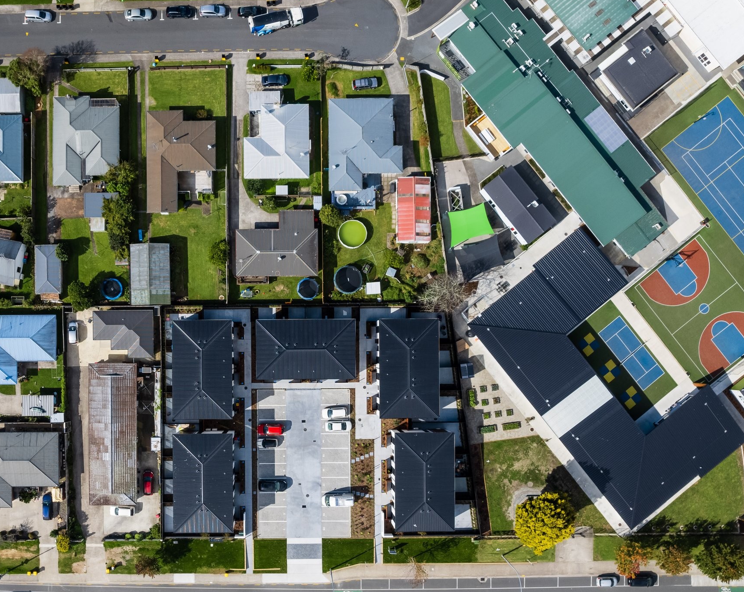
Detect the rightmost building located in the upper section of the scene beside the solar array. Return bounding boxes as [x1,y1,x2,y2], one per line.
[593,29,677,112]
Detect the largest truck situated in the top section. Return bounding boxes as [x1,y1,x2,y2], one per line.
[248,3,304,36]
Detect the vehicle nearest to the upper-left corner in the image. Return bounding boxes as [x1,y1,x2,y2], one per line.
[22,8,53,23]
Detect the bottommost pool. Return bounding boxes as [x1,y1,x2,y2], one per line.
[338,217,367,249]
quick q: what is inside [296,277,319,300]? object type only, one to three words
trampoline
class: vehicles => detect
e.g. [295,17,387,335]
[22,8,53,23]
[109,506,135,518]
[248,3,304,36]
[256,437,278,450]
[351,75,378,91]
[628,575,657,590]
[238,3,267,18]
[165,4,193,19]
[323,495,353,508]
[66,321,79,344]
[41,494,54,521]
[261,73,289,87]
[142,470,155,496]
[595,575,617,588]
[259,480,287,494]
[199,3,226,19]
[325,419,351,432]
[257,424,284,436]
[322,407,347,417]
[125,7,153,21]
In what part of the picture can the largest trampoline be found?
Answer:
center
